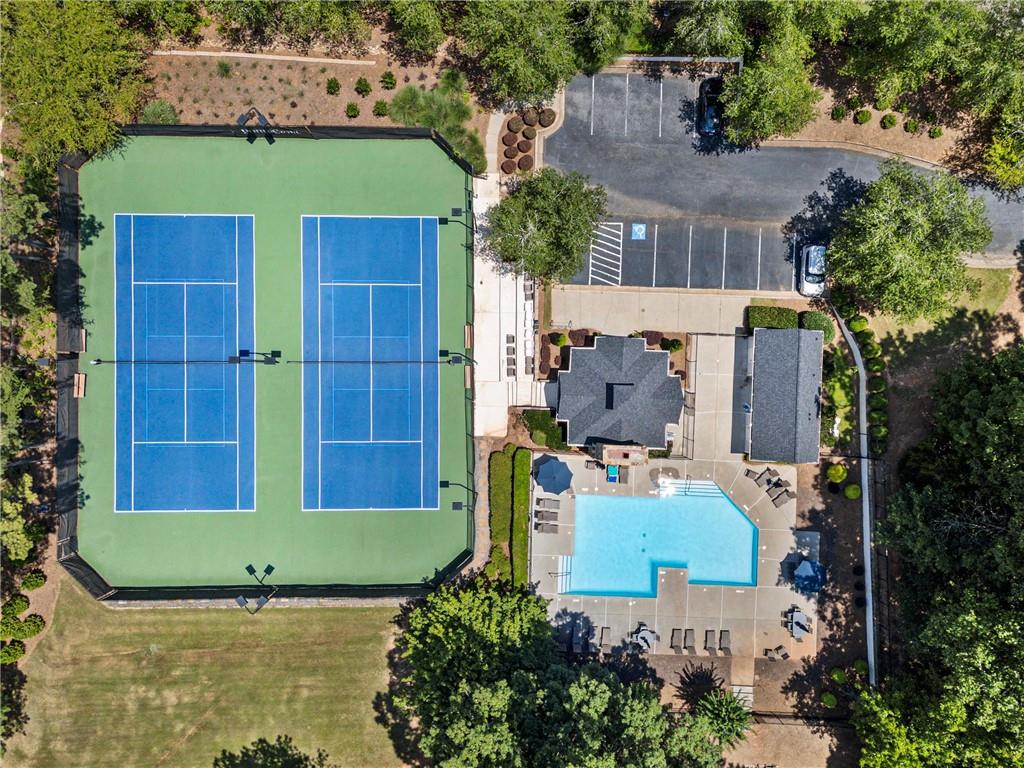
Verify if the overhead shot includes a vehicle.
Yes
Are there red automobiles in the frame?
No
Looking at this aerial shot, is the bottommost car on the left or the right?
right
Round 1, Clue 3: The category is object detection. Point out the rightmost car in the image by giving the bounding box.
[797,243,828,299]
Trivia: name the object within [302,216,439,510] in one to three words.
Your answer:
tennis court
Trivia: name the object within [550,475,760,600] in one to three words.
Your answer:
swimming pool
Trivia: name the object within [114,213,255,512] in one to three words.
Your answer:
tennis court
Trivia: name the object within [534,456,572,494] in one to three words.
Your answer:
umbrella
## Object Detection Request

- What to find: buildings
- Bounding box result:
[744,328,825,466]
[556,335,686,452]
